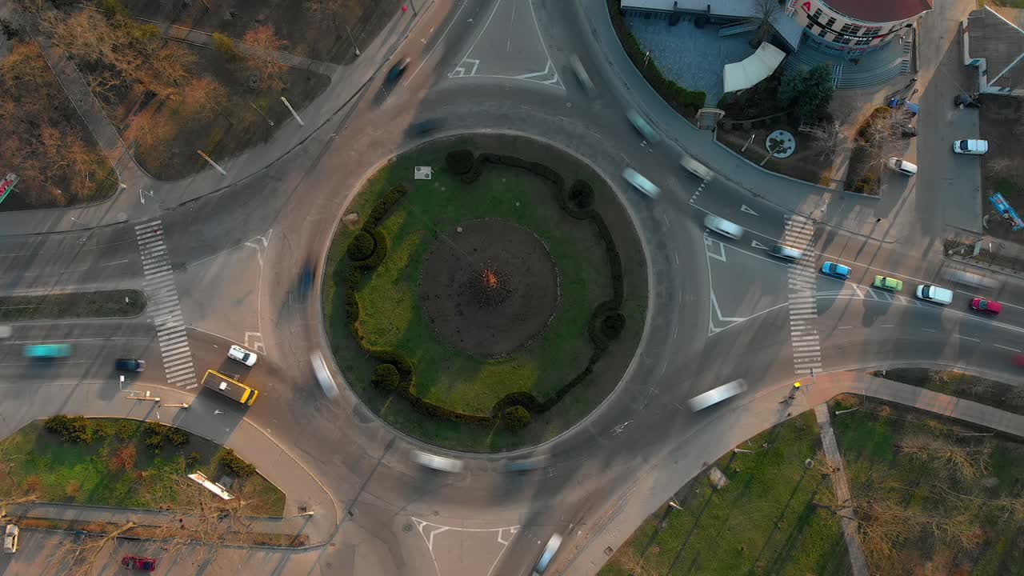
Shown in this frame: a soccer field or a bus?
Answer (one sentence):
It is a bus that can be seen here.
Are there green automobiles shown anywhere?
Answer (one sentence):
Yes, a green automobile appears in the view.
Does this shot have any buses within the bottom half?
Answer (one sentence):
Yes, a bus appears within the bottom half.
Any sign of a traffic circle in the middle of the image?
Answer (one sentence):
Yes, the scene does show a traffic circle in the middle of the image.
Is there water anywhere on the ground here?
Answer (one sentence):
No, there is no water in the image.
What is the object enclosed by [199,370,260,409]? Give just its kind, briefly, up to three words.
bus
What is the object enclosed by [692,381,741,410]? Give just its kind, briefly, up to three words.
vehicle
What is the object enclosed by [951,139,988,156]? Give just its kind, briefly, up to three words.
car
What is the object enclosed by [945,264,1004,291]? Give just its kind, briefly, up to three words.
vehicle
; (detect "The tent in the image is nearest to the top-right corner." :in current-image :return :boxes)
[719,43,785,101]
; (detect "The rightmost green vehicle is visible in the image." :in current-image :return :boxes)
[870,275,905,292]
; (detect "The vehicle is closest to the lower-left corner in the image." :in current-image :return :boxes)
[2,522,22,555]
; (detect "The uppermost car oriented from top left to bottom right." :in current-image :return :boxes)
[569,58,593,90]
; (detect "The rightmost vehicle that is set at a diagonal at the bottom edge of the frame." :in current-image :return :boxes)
[532,536,561,575]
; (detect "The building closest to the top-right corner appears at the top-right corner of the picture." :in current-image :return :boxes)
[961,5,1024,101]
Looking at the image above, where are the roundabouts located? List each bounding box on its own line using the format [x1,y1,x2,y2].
[314,124,659,464]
